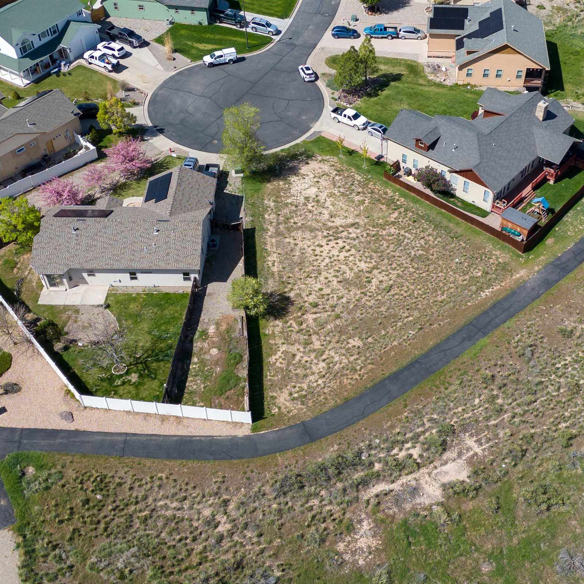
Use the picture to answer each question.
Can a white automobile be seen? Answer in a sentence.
Yes, a white automobile can be made out from above.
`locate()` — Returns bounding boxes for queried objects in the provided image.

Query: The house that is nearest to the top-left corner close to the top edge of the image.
[0,0,100,88]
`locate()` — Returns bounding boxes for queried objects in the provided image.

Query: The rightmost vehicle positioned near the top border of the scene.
[398,26,425,40]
